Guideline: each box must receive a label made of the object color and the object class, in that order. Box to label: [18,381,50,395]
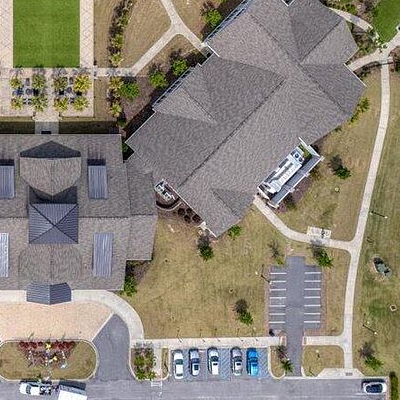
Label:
white vehicle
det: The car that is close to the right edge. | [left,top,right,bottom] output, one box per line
[362,380,387,394]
